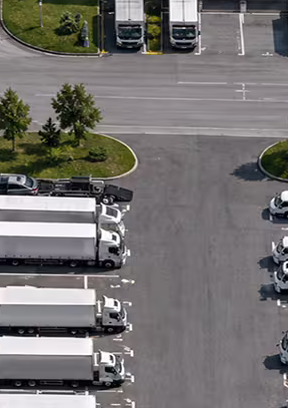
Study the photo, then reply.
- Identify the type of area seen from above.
parking lot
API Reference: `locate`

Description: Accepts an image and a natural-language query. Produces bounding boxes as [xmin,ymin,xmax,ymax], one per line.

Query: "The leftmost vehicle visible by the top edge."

[111,0,147,47]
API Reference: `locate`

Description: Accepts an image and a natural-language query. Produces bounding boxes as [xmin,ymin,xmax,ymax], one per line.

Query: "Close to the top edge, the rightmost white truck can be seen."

[165,0,201,47]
